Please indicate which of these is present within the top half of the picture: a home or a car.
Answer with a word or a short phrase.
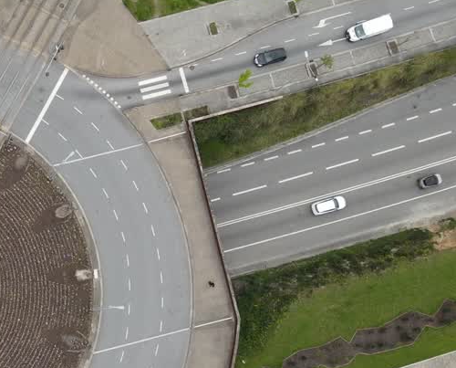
car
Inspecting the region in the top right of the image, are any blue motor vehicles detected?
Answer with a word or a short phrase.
No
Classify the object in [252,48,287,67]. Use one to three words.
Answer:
car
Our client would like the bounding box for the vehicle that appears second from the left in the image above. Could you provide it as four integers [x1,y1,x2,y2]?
[309,196,344,215]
